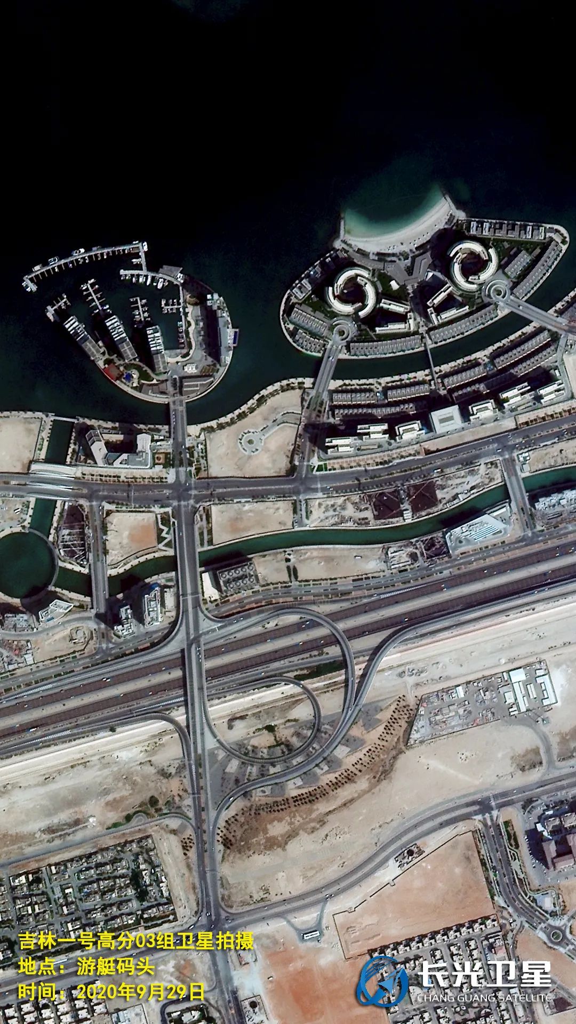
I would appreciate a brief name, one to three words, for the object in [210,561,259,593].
building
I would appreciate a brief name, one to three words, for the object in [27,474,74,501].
bridge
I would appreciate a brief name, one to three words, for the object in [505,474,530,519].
bridge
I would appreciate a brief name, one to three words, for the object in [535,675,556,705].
shed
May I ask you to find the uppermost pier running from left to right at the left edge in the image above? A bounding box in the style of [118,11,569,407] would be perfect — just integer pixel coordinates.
[23,242,148,292]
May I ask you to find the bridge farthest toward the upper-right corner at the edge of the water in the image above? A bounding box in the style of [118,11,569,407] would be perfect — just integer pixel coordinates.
[501,290,571,335]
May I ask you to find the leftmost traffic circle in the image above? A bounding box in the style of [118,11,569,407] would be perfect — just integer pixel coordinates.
[328,318,357,347]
